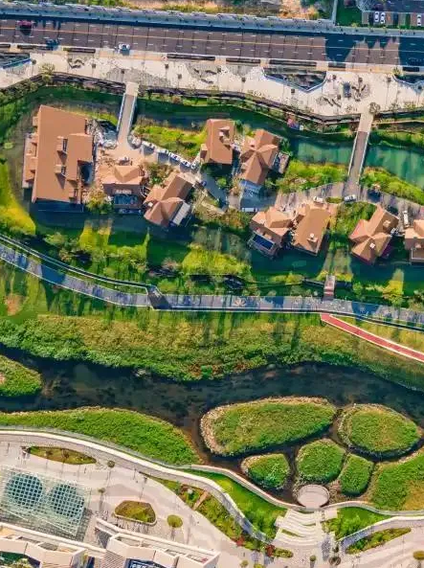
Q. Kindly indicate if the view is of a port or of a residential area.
residential area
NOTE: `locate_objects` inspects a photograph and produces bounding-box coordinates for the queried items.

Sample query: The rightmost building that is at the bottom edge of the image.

[95,515,225,568]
